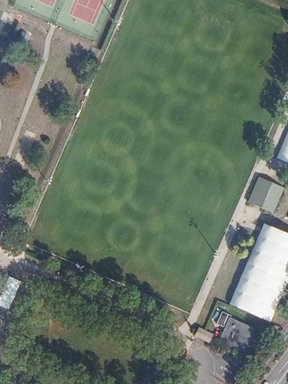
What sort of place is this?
sports ground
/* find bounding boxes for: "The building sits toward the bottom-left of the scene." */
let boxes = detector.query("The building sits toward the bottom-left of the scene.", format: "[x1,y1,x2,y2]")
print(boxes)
[0,276,22,310]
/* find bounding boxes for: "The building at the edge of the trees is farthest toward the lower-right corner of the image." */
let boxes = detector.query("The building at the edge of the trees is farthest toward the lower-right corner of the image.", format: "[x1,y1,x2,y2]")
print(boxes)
[222,317,252,346]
